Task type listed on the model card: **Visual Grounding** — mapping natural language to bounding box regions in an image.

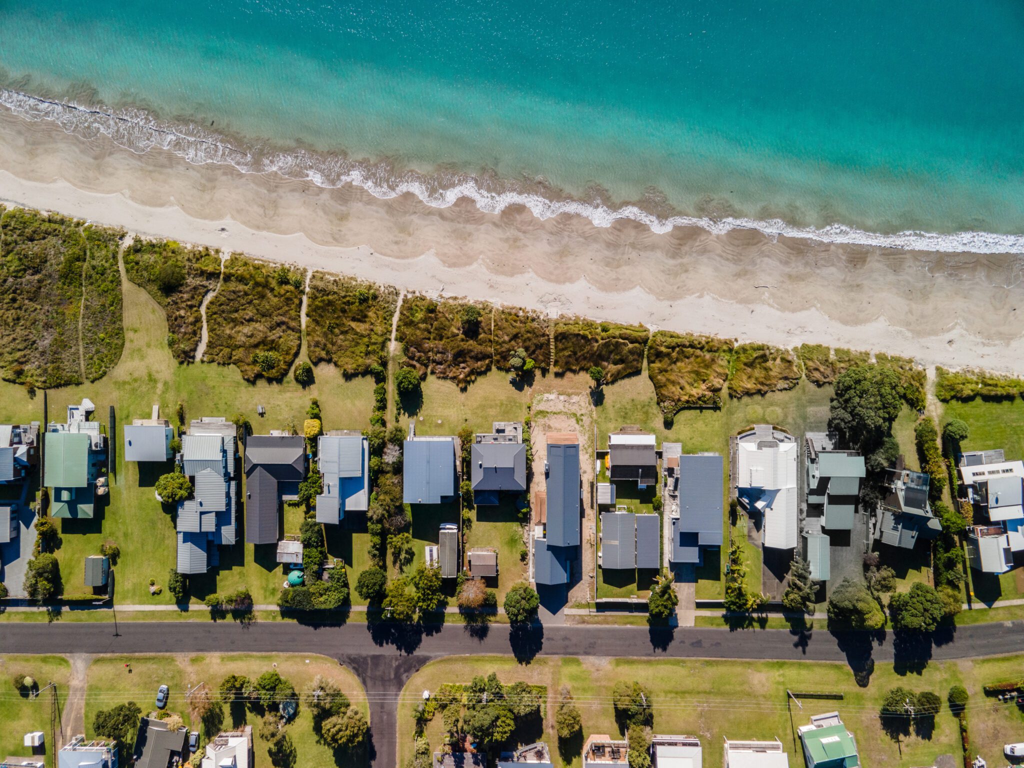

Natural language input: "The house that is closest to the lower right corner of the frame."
[793,707,859,768]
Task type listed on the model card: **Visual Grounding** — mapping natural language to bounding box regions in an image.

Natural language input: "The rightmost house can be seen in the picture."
[953,448,1024,573]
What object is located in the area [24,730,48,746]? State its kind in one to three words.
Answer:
camper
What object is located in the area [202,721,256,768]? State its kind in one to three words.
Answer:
house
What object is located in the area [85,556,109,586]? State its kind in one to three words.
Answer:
shed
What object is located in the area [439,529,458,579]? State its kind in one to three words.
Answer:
building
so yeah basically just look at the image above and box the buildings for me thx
[534,433,583,586]
[85,556,109,586]
[124,405,177,461]
[597,513,660,570]
[0,425,40,481]
[953,448,1024,573]
[0,506,22,543]
[176,417,240,575]
[597,483,615,504]
[581,731,630,768]
[58,732,123,768]
[471,547,498,577]
[0,758,52,768]
[872,454,942,552]
[803,432,866,535]
[315,430,370,524]
[471,422,526,505]
[650,729,703,768]
[403,421,461,504]
[202,721,256,768]
[44,396,109,518]
[722,735,788,768]
[736,424,798,550]
[662,442,723,568]
[245,430,305,546]
[139,711,194,768]
[439,529,458,579]
[609,426,659,490]
[793,707,859,768]
[497,740,554,768]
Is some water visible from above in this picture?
Yes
